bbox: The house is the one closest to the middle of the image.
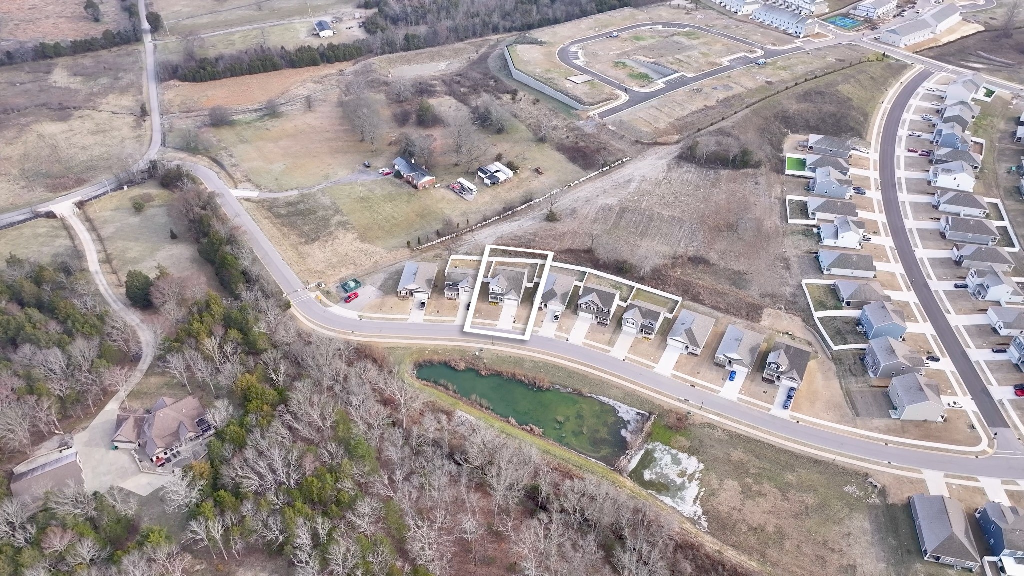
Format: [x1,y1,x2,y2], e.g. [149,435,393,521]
[488,266,529,307]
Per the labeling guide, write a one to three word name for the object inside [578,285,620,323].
house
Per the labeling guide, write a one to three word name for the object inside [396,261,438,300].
house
